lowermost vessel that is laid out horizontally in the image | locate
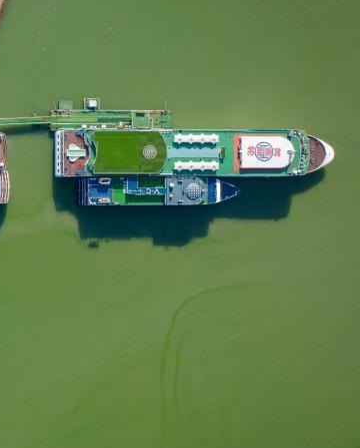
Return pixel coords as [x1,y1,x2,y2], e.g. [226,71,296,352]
[78,177,239,206]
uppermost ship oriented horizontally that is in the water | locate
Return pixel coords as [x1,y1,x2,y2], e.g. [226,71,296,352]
[52,130,333,177]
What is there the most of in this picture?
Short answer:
water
